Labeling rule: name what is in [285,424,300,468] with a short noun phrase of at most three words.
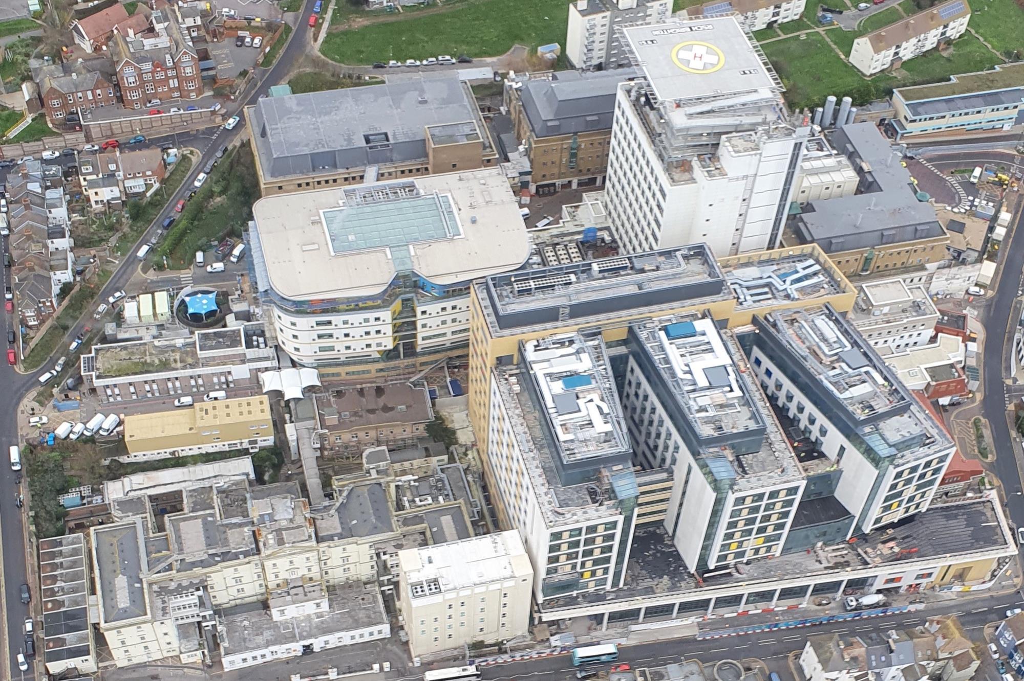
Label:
shed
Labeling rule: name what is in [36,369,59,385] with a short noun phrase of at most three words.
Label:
vehicle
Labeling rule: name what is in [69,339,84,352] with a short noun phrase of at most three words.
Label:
vehicle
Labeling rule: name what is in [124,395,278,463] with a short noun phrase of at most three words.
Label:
building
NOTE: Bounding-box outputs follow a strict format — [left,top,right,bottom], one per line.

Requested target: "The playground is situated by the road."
[169,282,228,330]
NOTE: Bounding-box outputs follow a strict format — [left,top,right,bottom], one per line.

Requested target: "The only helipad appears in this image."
[614,12,786,132]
